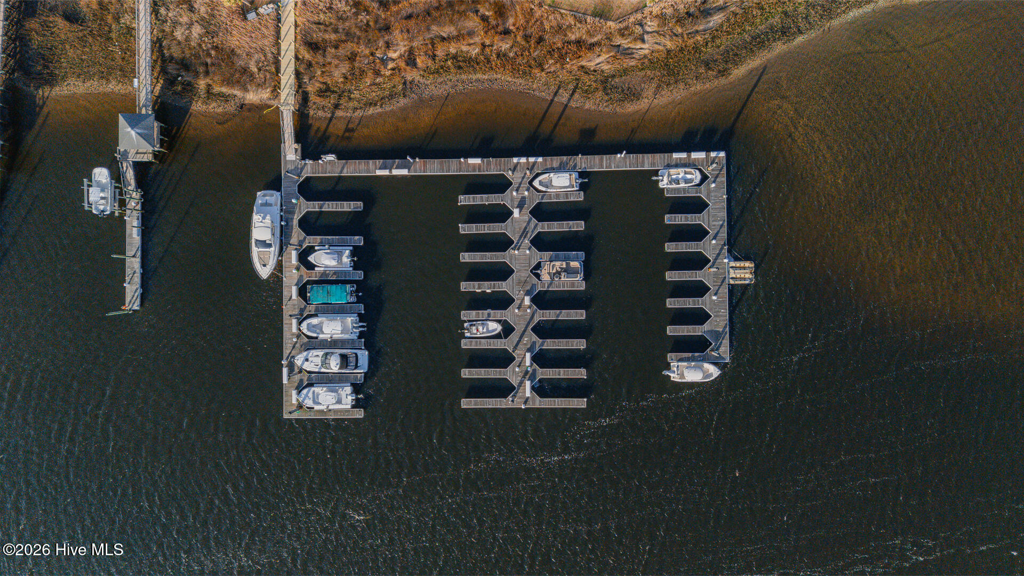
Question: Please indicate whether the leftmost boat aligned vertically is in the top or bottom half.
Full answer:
It is in the top half that the leftmost boat aligned vertically appears.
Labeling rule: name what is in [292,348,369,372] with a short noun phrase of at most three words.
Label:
boat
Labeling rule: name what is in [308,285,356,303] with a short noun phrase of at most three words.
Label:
boat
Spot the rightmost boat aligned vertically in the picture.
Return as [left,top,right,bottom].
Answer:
[251,191,283,279]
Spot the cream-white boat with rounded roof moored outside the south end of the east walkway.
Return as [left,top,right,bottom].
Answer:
[661,362,721,382]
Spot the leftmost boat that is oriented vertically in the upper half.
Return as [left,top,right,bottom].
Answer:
[89,167,113,222]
